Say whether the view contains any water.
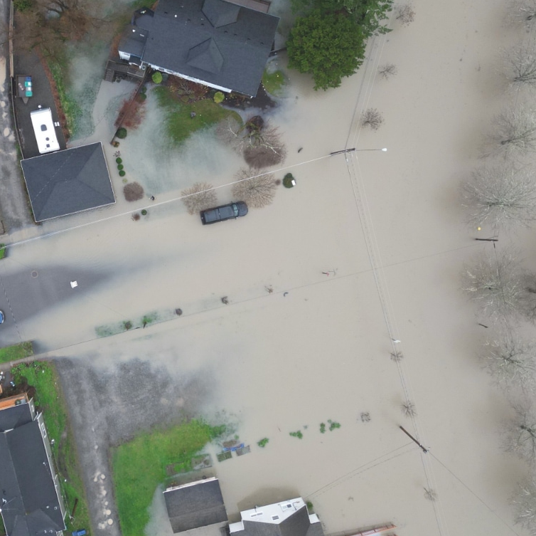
Yes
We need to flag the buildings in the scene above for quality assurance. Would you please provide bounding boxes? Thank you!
[229,497,322,536]
[163,475,228,534]
[0,388,66,536]
[20,141,116,222]
[102,0,280,97]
